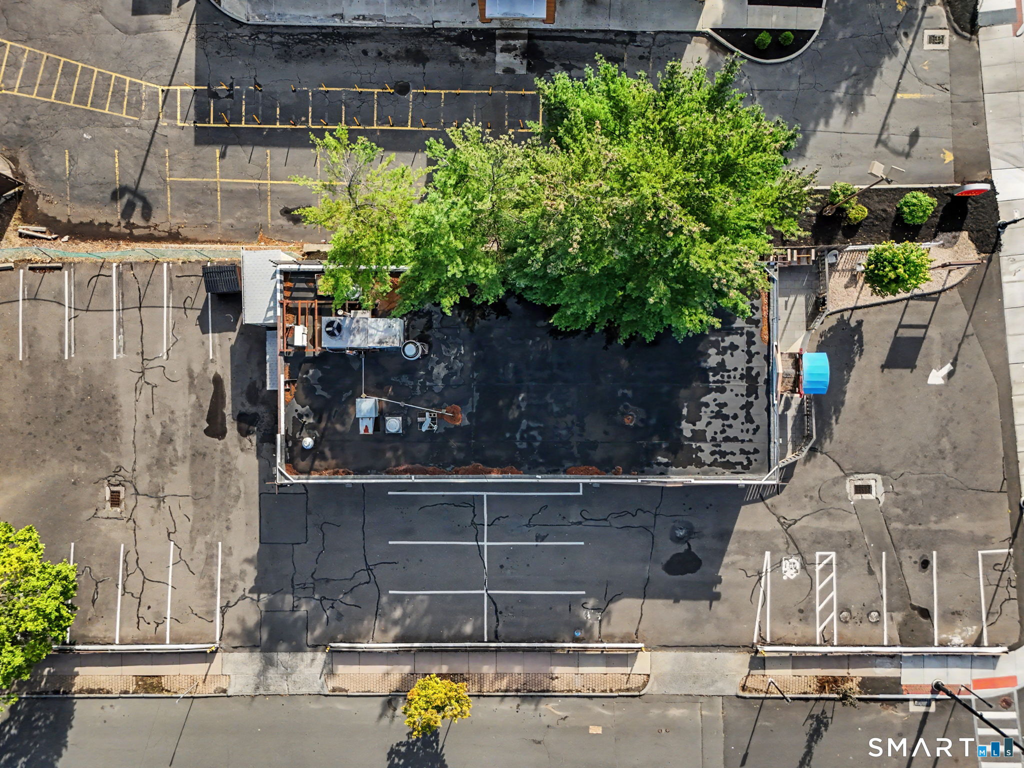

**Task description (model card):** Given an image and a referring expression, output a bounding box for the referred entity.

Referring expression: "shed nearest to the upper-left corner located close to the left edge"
[0,172,37,210]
